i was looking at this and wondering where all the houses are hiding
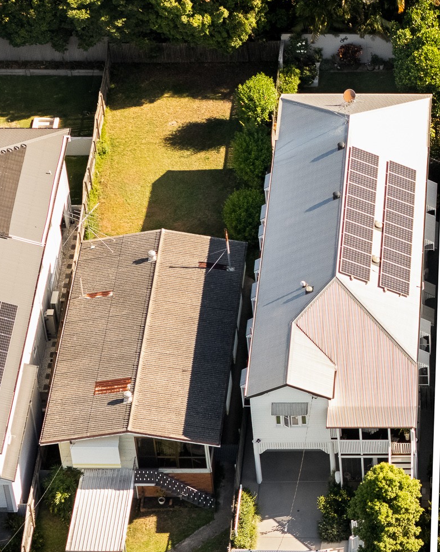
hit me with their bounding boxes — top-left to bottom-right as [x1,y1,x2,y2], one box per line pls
[242,93,439,529]
[0,134,70,512]
[40,228,248,506]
